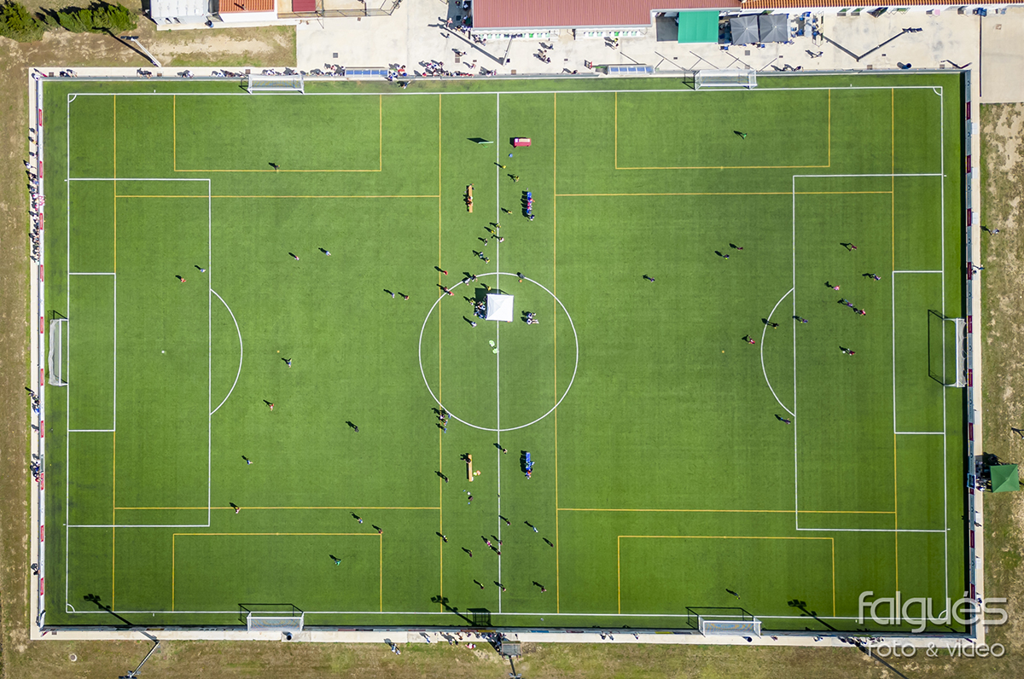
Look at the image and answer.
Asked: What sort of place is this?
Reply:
sports ground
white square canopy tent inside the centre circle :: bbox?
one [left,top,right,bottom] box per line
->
[485,294,514,322]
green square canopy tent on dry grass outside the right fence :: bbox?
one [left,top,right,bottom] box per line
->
[980,461,1020,492]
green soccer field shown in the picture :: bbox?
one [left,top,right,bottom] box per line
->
[43,73,971,633]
